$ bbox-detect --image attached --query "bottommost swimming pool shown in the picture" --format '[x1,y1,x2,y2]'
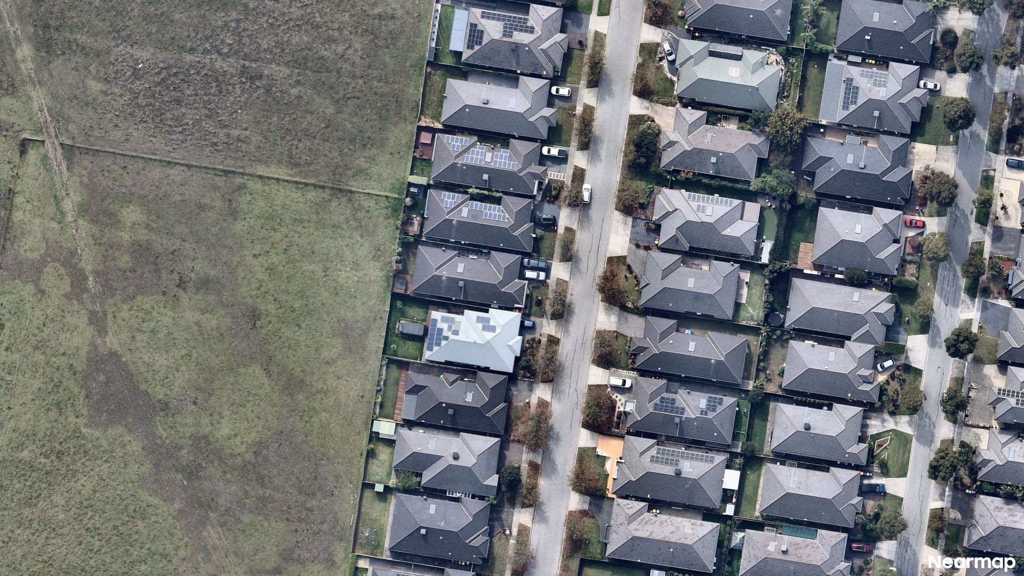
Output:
[782,526,816,539]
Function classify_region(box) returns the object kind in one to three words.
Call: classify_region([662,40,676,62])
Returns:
car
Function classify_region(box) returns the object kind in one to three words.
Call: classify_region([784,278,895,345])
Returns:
house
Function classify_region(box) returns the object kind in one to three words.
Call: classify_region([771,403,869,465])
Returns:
house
